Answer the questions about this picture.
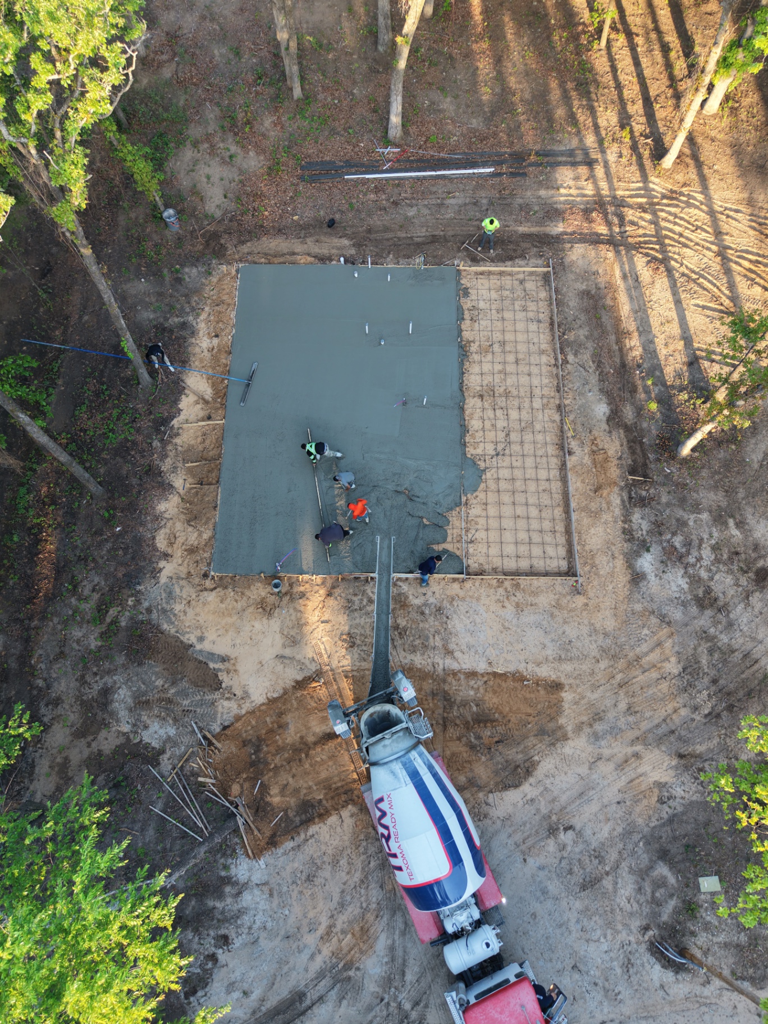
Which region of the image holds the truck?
bottom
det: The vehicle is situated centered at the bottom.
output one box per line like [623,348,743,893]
[327,537,576,1024]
